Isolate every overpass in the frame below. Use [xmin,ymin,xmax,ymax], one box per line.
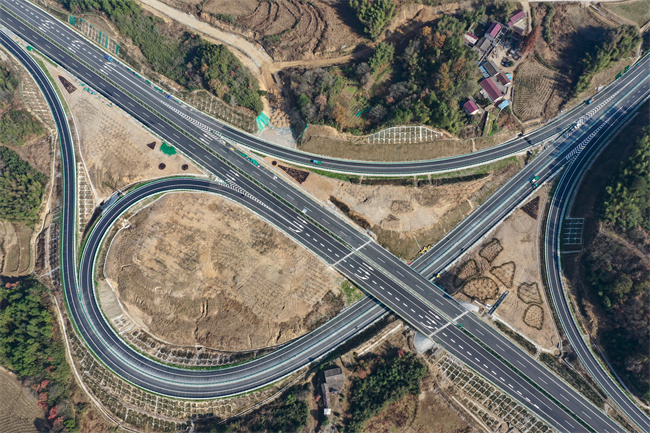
[329,240,470,352]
